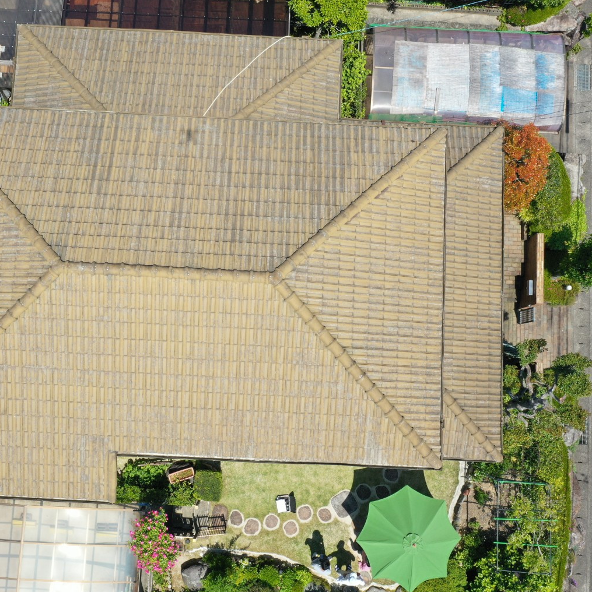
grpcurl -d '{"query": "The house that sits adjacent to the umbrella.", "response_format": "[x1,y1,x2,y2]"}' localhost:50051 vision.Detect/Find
[0,23,508,506]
